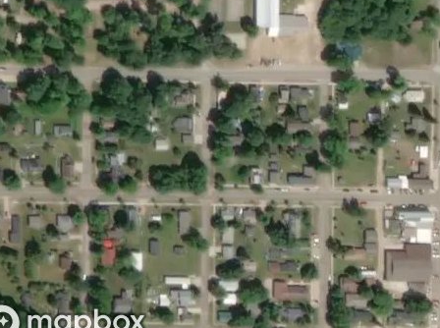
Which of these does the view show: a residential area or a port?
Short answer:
residential area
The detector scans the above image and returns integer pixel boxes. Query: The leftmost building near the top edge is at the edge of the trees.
[279,13,308,37]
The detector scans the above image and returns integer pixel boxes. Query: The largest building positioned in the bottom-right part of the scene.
[384,243,432,283]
